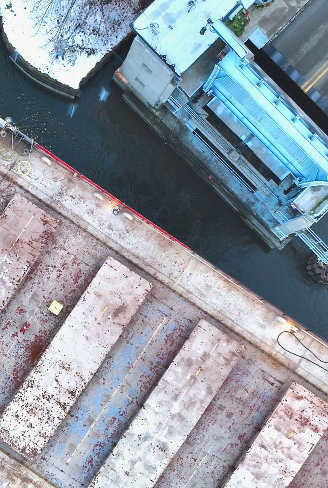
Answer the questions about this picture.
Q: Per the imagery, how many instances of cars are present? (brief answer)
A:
0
